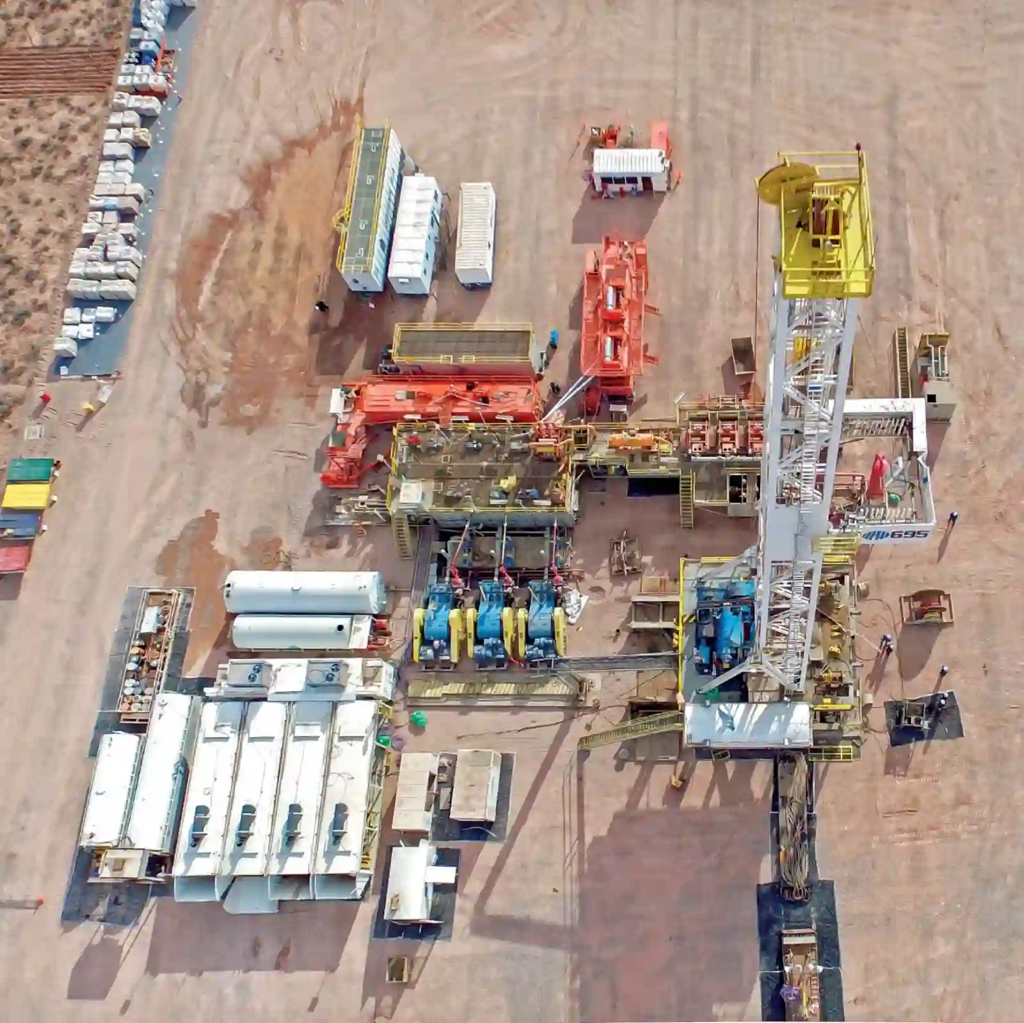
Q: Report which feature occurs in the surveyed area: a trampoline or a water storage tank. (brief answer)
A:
water storage tank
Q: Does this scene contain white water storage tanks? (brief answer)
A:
Yes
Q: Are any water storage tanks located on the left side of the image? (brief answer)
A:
Yes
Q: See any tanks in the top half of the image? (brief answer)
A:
Yes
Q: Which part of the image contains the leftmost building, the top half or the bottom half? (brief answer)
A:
bottom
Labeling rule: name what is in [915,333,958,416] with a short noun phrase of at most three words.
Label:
building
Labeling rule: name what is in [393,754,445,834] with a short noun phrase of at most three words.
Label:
building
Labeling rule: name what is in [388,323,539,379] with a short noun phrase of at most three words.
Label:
storage tank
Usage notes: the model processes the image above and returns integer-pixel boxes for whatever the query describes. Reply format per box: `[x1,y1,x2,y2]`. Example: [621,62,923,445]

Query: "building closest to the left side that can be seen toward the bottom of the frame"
[205,659,399,703]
